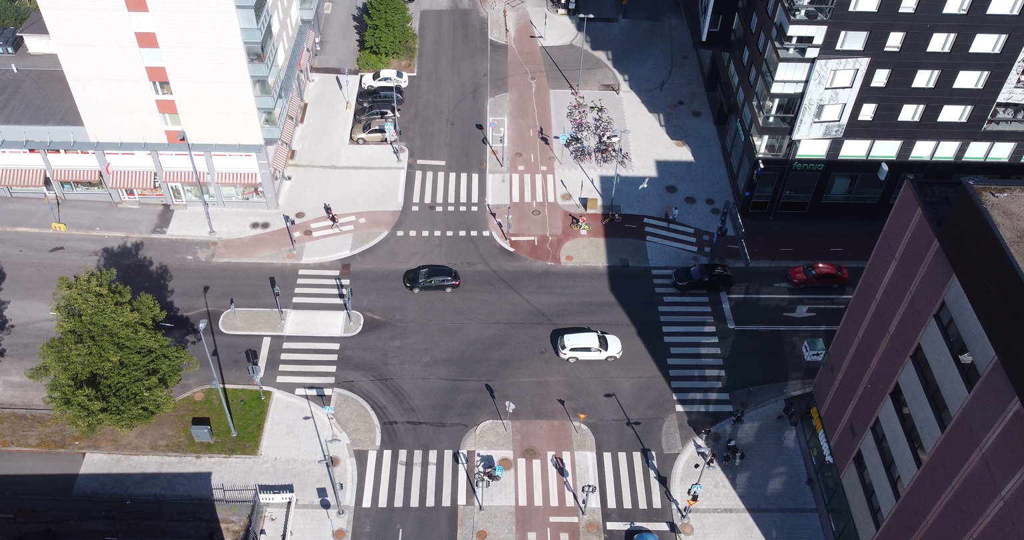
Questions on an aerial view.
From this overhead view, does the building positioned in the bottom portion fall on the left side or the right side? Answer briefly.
right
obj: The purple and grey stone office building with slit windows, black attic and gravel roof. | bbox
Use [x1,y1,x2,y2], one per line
[801,177,1024,540]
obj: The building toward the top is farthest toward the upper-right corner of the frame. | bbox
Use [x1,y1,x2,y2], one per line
[683,0,1024,213]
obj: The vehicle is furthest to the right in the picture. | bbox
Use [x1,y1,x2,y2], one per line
[787,259,850,287]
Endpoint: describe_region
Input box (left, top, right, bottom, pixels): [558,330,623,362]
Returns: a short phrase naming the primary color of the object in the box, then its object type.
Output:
white car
